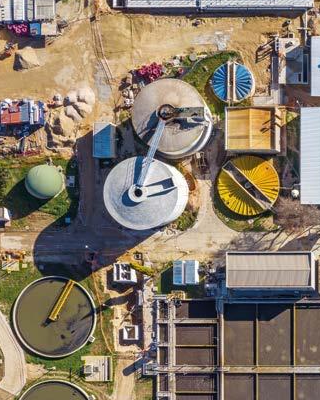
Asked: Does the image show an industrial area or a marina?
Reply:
industrial area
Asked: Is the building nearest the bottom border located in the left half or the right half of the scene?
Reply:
left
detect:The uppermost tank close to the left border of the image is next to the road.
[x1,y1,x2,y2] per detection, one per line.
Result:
[12,275,97,358]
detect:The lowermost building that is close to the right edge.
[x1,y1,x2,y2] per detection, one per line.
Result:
[225,250,316,289]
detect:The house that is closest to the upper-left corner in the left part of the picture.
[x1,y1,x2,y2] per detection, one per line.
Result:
[93,122,117,158]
